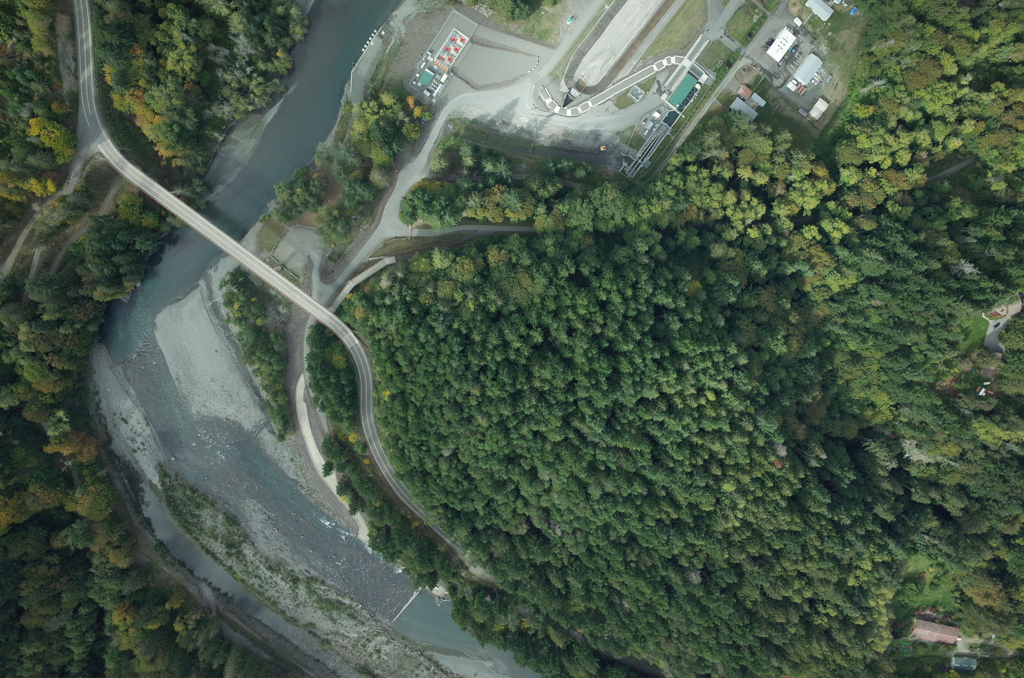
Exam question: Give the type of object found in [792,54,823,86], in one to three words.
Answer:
barn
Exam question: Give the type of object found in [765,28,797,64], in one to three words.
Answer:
building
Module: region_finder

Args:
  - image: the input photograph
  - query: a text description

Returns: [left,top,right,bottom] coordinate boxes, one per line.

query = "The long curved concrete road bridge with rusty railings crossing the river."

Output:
[96,137,361,350]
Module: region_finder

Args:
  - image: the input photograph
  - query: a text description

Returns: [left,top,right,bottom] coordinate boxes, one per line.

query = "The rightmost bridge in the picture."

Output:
[663,34,709,92]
